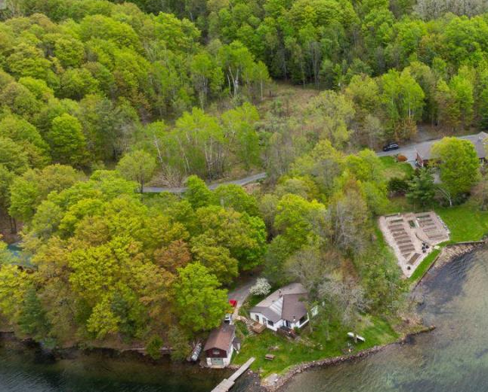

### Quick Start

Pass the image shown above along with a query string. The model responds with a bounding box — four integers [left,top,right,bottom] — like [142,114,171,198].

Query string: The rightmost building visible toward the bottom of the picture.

[248,284,308,332]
